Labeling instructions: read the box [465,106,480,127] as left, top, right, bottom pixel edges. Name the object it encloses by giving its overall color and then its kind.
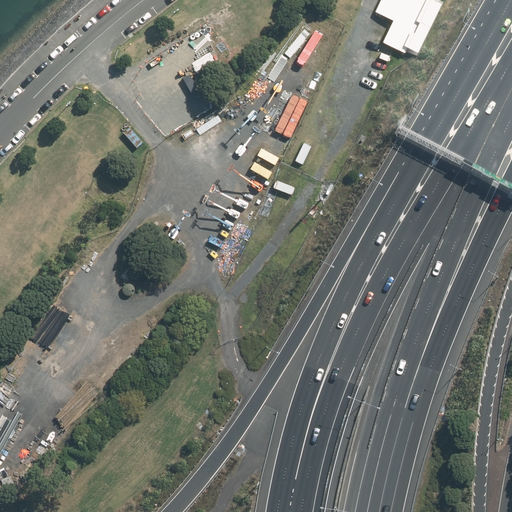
white vehicle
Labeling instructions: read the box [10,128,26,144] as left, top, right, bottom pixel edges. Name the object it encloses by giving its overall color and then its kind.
white vehicle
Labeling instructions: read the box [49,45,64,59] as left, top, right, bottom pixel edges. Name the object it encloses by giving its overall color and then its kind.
white car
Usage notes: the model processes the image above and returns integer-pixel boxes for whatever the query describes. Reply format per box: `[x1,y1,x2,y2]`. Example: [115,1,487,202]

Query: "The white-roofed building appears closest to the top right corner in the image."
[375,0,444,54]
